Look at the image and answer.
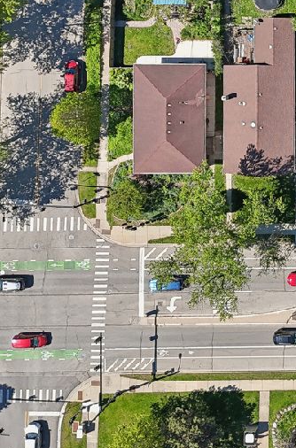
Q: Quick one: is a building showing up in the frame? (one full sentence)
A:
Yes, there's a building down there.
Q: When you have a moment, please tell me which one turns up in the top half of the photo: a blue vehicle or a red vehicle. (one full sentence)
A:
What appears in the top half of the photo is a red vehicle.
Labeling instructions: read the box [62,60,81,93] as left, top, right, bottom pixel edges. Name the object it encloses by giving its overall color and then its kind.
red car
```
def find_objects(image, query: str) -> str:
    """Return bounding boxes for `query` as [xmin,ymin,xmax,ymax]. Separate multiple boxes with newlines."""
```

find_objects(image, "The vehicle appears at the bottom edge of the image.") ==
[24,422,44,448]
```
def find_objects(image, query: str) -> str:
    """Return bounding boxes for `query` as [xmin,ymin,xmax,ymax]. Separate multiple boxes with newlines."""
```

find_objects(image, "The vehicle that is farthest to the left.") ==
[0,275,27,291]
